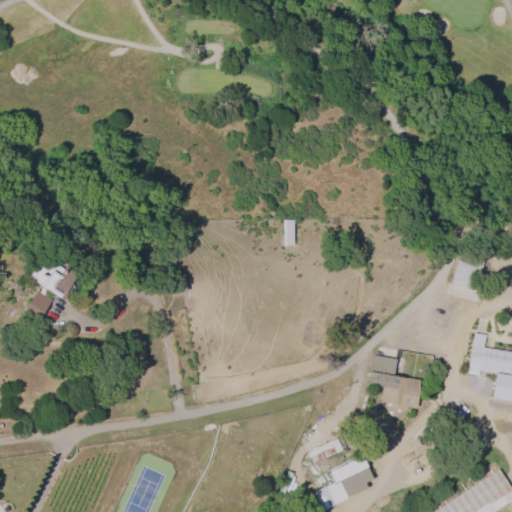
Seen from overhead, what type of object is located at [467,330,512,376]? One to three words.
building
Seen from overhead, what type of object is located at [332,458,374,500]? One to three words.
barn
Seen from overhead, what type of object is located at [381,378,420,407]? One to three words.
building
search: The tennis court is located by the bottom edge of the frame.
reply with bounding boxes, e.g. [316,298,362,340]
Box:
[117,456,173,512]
